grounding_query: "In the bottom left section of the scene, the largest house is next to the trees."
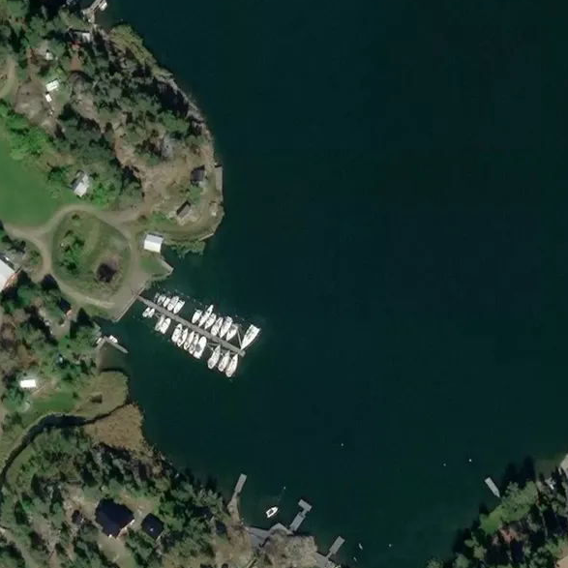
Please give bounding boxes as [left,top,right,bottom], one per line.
[95,497,136,536]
